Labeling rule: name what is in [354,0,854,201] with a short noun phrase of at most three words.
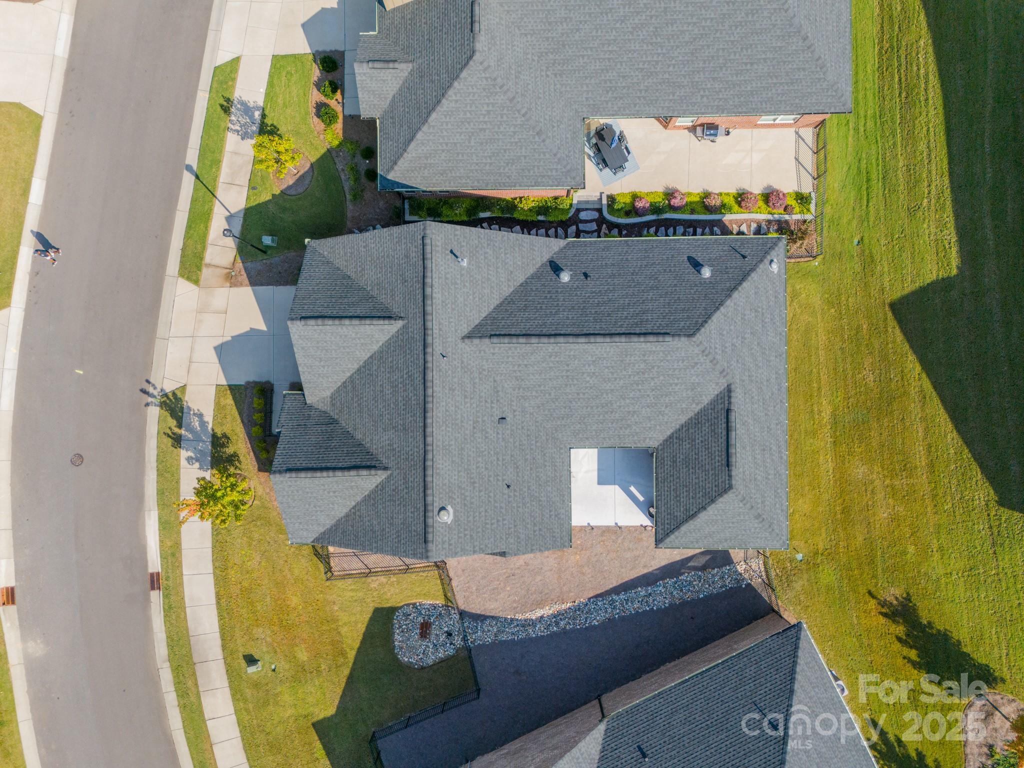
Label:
house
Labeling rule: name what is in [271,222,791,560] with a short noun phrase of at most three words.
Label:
house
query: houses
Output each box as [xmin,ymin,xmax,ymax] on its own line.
[354,0,854,201]
[447,611,876,768]
[271,222,791,560]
